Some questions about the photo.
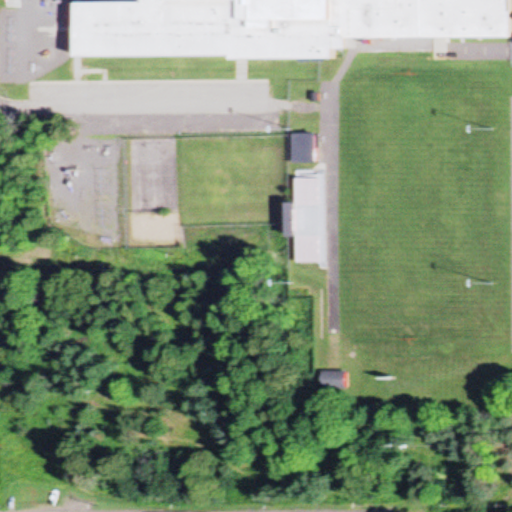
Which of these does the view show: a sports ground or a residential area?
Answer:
sports ground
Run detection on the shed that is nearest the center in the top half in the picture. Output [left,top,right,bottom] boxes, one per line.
[290,134,316,162]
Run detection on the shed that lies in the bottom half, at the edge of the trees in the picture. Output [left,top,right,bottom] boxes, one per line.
[319,371,347,388]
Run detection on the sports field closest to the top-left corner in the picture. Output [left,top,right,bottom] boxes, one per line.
[184,138,284,224]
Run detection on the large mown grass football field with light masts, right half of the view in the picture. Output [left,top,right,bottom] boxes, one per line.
[338,60,512,408]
